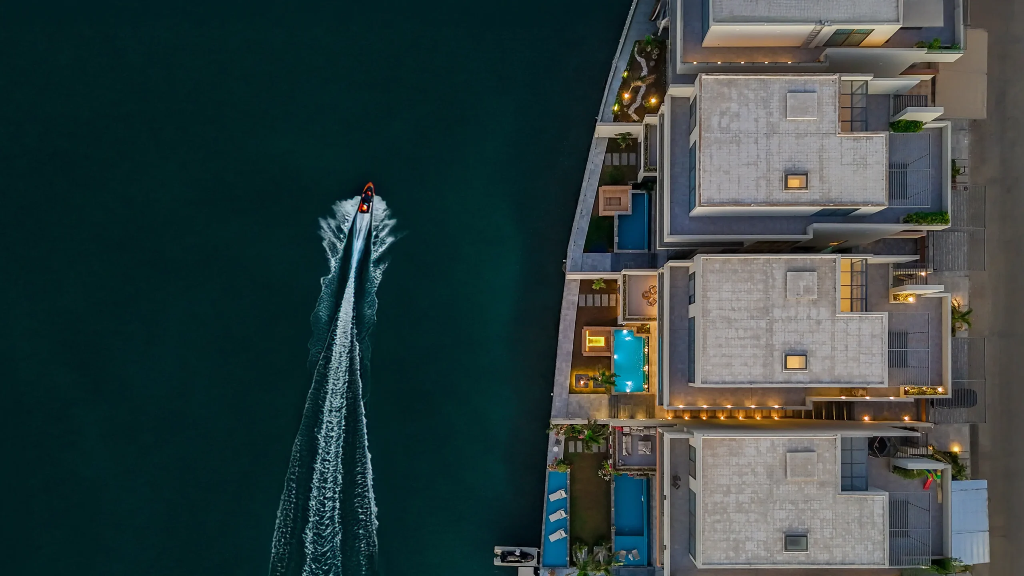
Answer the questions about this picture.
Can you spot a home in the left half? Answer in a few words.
No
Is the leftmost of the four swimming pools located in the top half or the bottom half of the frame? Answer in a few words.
bottom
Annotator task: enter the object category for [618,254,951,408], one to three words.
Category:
house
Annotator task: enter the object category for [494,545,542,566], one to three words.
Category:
pier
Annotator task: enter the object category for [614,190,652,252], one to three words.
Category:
swimming pool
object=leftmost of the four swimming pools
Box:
[540,469,570,569]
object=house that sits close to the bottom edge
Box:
[610,420,951,576]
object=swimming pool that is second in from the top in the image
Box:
[611,327,649,395]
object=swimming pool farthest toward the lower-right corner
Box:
[612,471,650,568]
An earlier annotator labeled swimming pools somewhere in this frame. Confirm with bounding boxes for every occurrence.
[611,327,649,395]
[612,471,650,568]
[614,190,652,252]
[540,469,570,569]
